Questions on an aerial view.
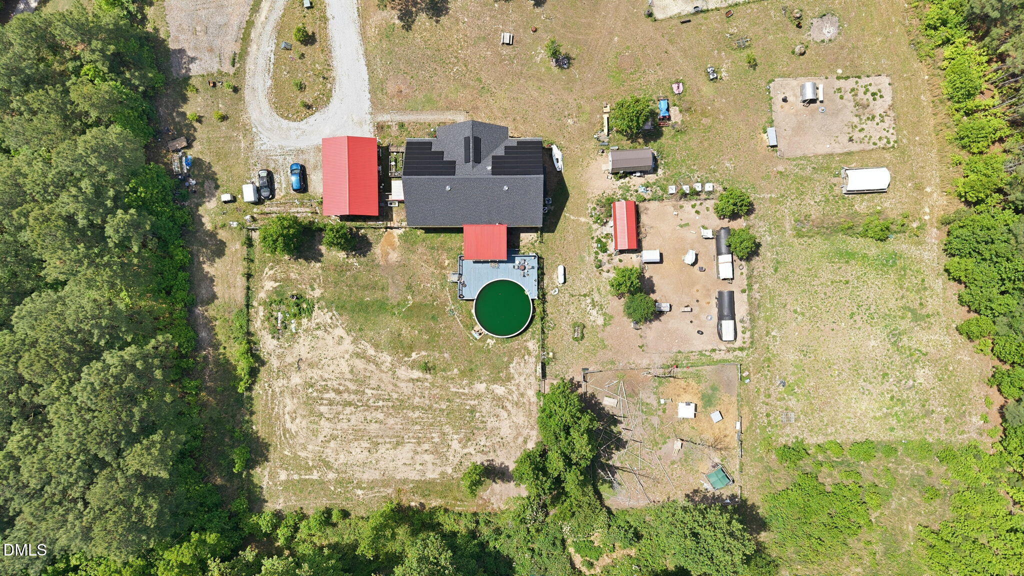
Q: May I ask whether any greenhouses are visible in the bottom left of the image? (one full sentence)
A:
No, there's no greenhouse to be seen in the bottom left of the image.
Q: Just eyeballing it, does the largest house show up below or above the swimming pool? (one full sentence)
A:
In the image, the largest house sits above the swimming pool.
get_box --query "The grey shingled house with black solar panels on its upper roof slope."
[402,121,544,227]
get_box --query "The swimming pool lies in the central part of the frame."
[473,278,533,339]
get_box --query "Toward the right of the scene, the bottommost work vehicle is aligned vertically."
[657,92,672,125]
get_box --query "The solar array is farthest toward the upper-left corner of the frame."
[403,141,455,174]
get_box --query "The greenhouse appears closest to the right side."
[843,167,897,193]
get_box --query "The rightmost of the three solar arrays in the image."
[492,140,543,174]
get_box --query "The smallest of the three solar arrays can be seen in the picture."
[466,136,480,164]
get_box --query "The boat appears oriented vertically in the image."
[553,145,566,172]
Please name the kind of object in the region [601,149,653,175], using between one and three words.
shed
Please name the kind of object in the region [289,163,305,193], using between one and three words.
car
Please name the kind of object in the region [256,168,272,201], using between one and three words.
car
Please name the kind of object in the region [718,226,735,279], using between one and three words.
house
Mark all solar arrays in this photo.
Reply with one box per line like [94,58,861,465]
[403,141,455,174]
[492,140,543,174]
[466,136,480,164]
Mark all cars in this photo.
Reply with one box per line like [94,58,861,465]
[256,168,272,201]
[289,163,305,193]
